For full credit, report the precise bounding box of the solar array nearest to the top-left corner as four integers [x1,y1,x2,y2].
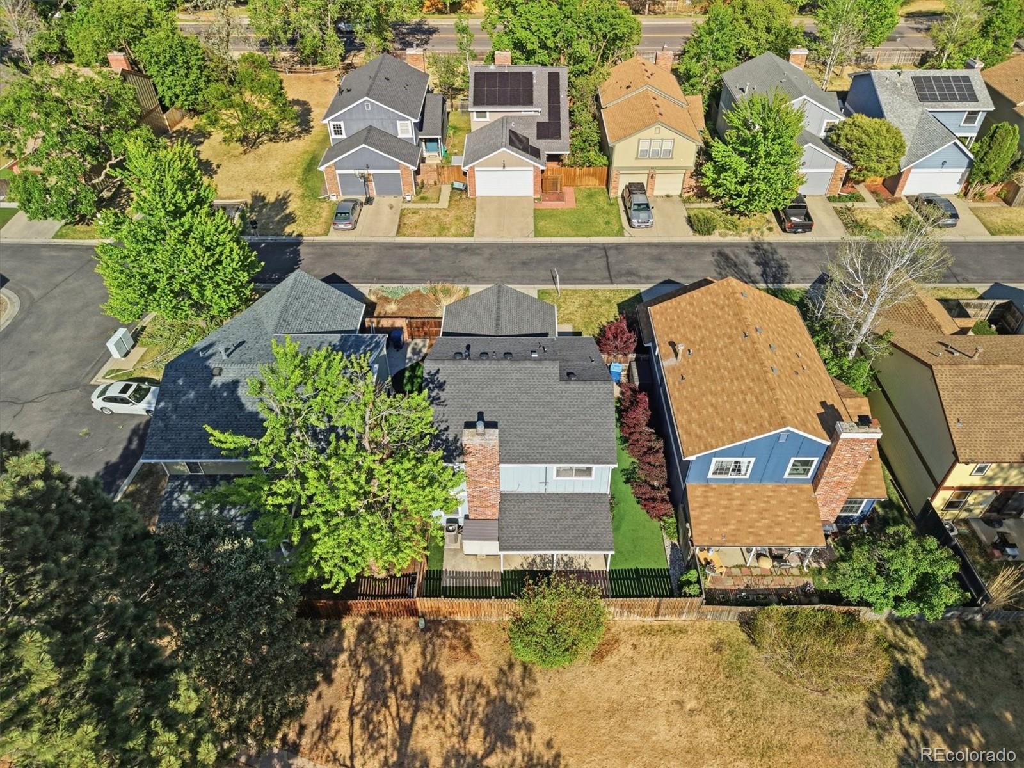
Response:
[473,71,533,106]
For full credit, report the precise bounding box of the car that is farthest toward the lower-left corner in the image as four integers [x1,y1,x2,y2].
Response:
[86,379,159,415]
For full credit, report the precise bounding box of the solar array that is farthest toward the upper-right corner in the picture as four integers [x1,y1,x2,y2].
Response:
[912,75,978,102]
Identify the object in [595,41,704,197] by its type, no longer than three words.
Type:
house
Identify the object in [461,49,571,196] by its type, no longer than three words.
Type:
house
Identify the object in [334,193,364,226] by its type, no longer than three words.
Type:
car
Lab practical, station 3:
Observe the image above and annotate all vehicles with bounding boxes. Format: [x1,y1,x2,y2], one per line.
[772,188,815,227]
[334,193,364,226]
[916,188,963,223]
[86,379,159,415]
[625,184,655,224]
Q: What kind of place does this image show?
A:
residential area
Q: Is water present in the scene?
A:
No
